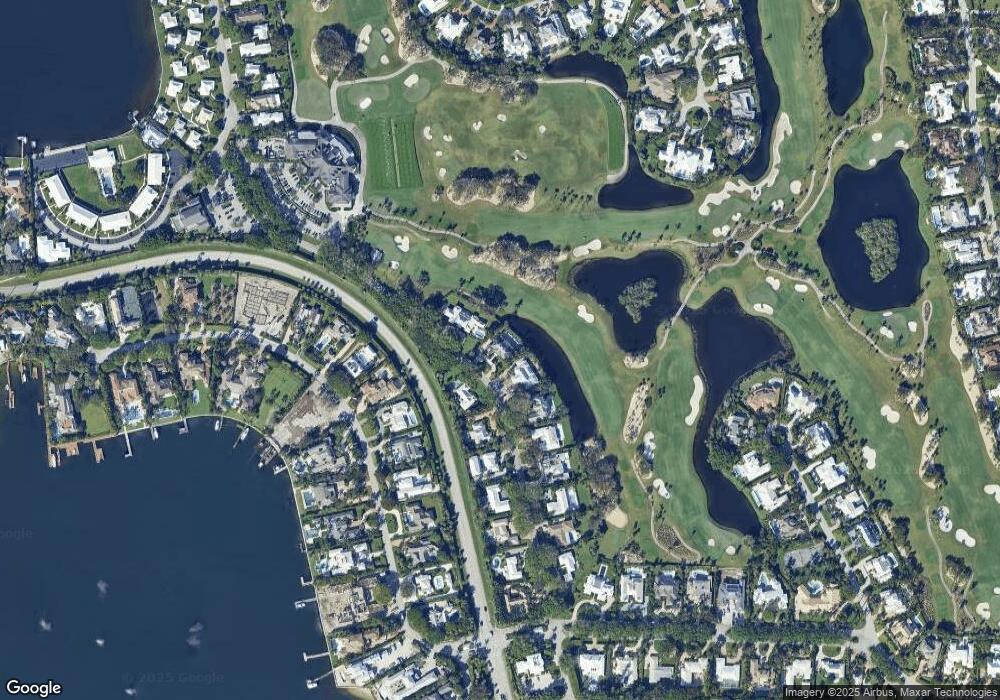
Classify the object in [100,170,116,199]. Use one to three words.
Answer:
swimming pool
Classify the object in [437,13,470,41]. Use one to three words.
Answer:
house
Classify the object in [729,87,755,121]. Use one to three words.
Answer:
house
